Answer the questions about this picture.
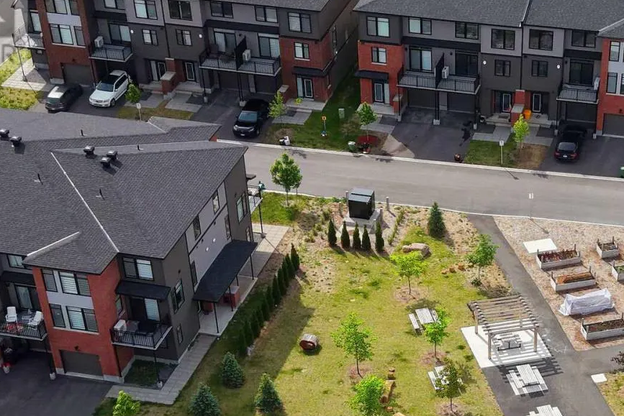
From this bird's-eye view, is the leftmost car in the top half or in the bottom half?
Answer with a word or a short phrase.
top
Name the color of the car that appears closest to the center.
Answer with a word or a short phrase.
black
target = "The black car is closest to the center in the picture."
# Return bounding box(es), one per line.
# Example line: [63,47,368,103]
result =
[230,97,270,137]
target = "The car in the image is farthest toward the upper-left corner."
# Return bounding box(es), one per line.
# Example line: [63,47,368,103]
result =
[43,84,88,110]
